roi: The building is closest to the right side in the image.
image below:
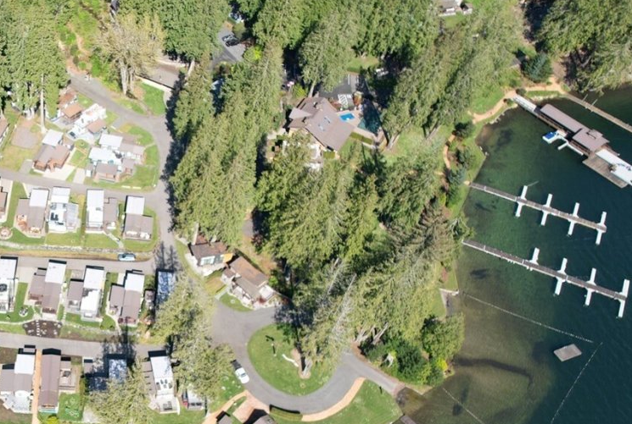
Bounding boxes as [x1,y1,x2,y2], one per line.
[571,127,610,159]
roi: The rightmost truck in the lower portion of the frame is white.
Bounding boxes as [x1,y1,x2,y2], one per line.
[230,359,252,383]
